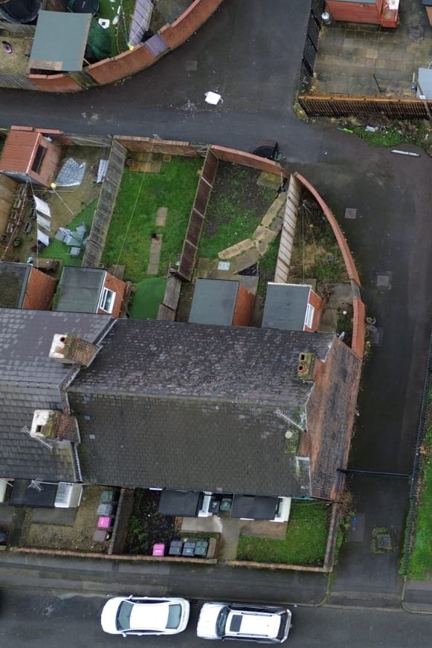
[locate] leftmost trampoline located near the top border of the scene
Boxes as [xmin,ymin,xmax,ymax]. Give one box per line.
[0,0,45,24]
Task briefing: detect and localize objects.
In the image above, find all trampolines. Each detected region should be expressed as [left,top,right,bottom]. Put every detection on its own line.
[65,0,98,13]
[0,0,45,24]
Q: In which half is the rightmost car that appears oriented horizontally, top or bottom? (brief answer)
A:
bottom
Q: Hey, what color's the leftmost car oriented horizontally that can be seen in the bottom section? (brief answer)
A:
white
